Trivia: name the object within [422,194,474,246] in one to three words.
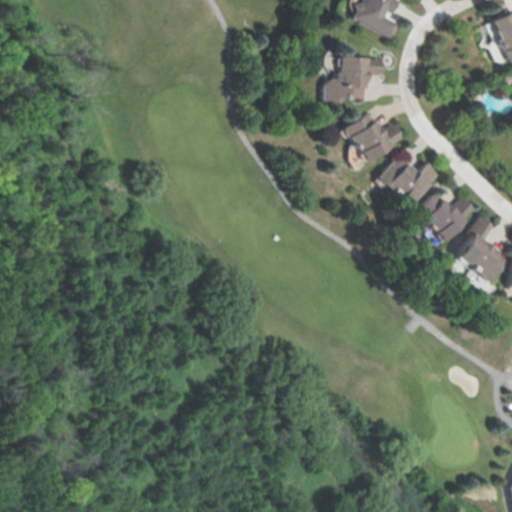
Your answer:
house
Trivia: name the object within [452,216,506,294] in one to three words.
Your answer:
house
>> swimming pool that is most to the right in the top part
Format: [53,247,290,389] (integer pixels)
[476,92,512,118]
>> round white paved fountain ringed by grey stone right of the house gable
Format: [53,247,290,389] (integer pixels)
[379,51,397,70]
